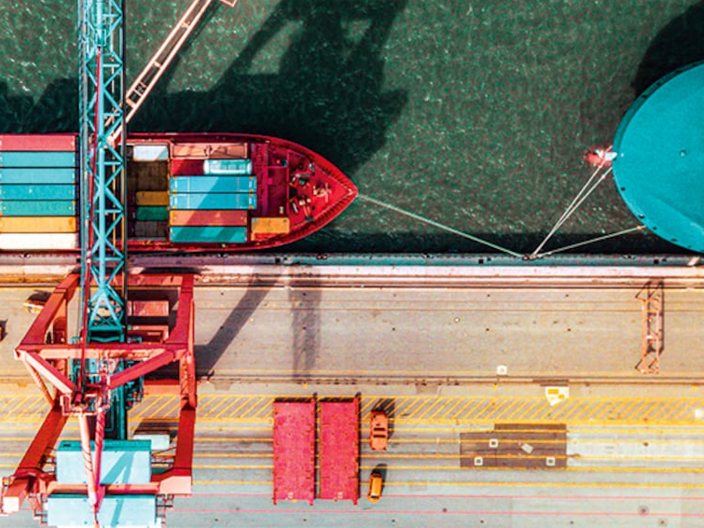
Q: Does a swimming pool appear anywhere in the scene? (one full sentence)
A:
No, no swimming pool can be seen from above.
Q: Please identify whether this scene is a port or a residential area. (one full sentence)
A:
This image shows a port.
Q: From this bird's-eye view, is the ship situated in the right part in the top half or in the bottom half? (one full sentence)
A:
The ship situated in the right part is in the top half of the image.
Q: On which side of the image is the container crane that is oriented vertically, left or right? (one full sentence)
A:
The container crane that is oriented vertically is on the left side of the image.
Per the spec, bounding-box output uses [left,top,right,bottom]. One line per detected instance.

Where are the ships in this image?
[591,63,704,249]
[0,0,358,251]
